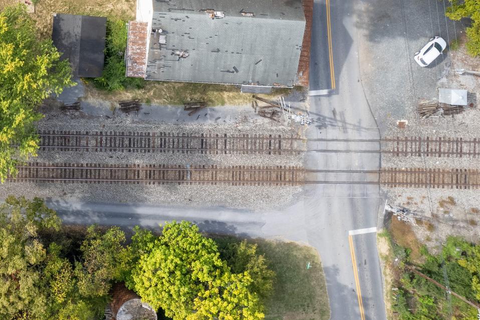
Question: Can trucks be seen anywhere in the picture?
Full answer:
No, the scene contains no truck.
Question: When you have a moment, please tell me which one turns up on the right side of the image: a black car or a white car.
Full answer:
Visible on the right side of the image is a white car.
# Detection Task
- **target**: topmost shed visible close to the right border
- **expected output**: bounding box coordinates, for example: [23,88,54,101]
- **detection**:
[428,87,467,105]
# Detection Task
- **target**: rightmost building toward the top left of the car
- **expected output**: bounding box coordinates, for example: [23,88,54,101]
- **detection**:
[120,0,315,93]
